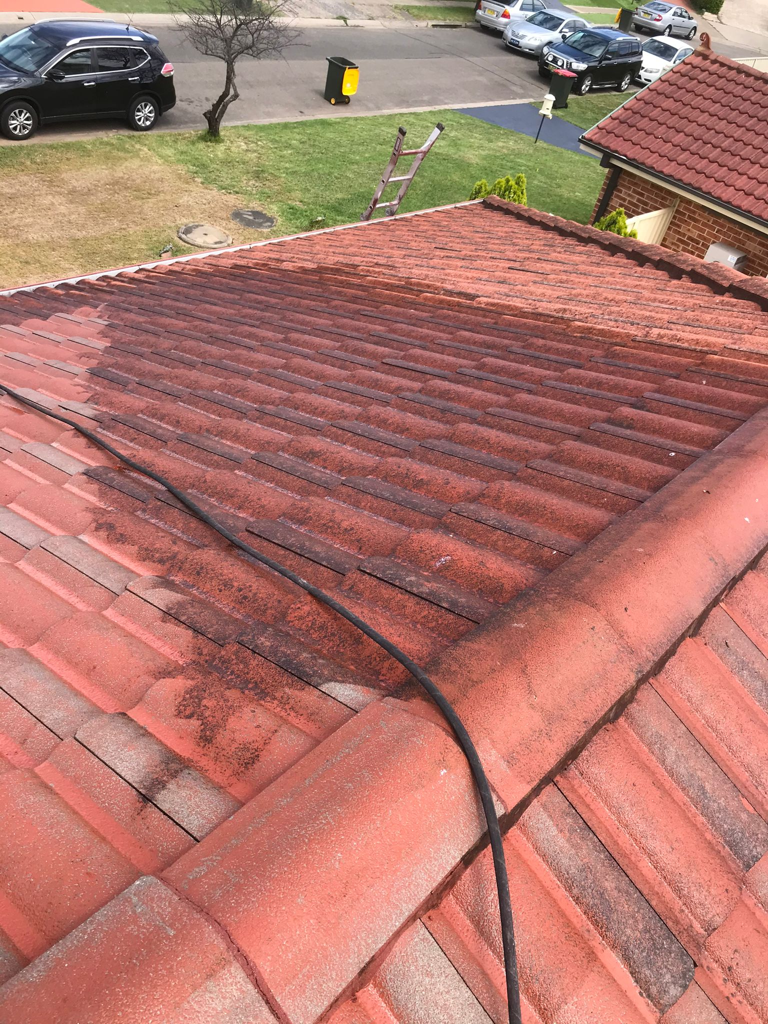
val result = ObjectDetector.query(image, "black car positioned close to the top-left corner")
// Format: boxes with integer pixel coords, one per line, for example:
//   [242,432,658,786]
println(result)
[0,18,180,137]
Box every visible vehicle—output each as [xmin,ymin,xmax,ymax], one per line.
[529,20,644,93]
[479,0,549,29]
[634,42,692,84]
[638,1,697,38]
[0,18,180,137]
[503,12,587,52]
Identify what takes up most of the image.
buildings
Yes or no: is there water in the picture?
No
